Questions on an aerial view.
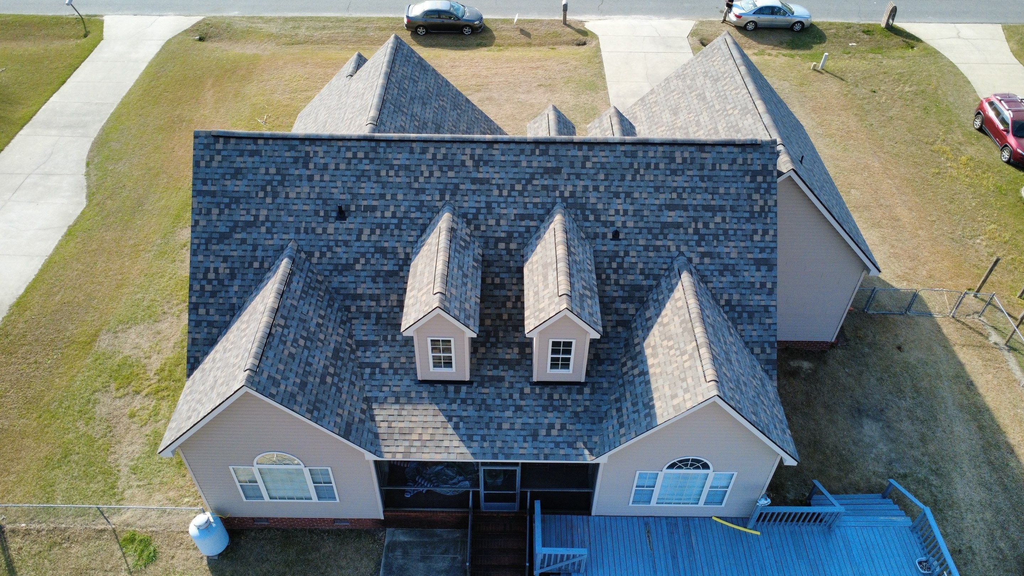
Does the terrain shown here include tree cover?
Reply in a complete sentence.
No, there is no tree cover in the image.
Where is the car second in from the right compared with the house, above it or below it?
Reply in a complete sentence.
The car second in from the right is found above the house in the photo.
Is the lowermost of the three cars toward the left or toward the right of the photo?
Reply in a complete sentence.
It is on the right.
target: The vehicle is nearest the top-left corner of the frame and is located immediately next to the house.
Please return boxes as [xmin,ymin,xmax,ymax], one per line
[403,0,484,35]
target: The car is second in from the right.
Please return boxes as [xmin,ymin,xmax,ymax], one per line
[729,0,816,32]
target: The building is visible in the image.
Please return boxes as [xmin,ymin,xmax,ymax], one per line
[158,31,882,576]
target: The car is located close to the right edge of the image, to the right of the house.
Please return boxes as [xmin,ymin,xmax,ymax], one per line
[974,85,1024,165]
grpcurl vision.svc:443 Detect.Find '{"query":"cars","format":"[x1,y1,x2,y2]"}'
[729,0,816,32]
[403,0,484,35]
[974,85,1024,165]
